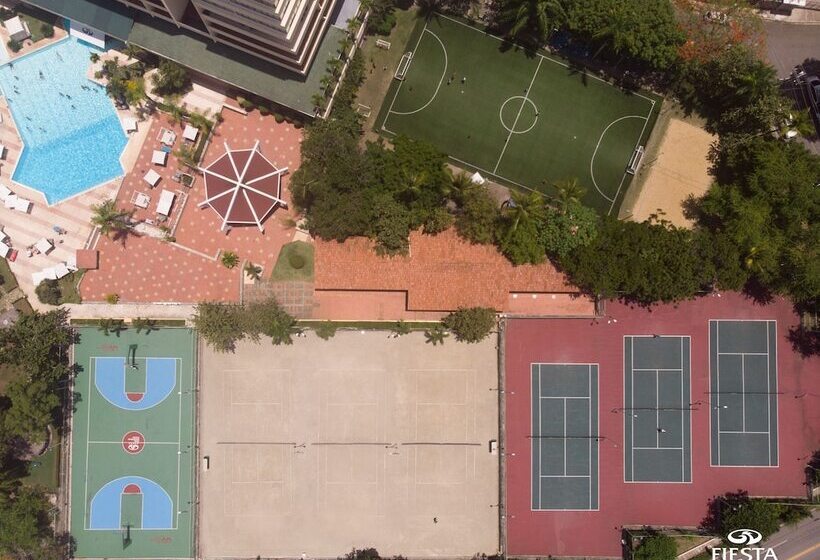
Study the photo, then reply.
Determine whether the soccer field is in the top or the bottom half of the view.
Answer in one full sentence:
You can find the soccer field in the top half.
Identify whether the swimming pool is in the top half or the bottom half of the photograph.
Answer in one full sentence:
The swimming pool sits in the top half of the picture.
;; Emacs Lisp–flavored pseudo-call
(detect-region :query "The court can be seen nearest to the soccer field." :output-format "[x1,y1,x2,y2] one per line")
[623,116,719,229]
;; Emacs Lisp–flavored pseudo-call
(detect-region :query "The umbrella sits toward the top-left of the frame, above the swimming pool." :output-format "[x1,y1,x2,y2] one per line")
[5,18,26,35]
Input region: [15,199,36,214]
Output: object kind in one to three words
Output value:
umbrella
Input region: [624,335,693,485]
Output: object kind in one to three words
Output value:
tennis court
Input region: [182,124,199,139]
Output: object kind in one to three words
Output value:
umbrella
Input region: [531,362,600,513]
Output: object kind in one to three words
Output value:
tennis court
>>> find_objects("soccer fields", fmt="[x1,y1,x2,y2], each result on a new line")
[369,9,666,224]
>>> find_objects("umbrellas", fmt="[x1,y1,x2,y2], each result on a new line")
[54,261,74,277]
[33,272,46,285]
[15,199,36,214]
[5,18,26,35]
[182,124,199,139]
[0,183,17,199]
[65,254,76,269]
[157,189,176,214]
[35,235,57,254]
[152,151,168,163]
[0,241,17,257]
[143,170,161,187]
[42,266,58,280]
[123,117,139,129]
[6,195,19,207]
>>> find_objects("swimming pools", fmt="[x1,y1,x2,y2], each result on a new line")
[0,34,130,208]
